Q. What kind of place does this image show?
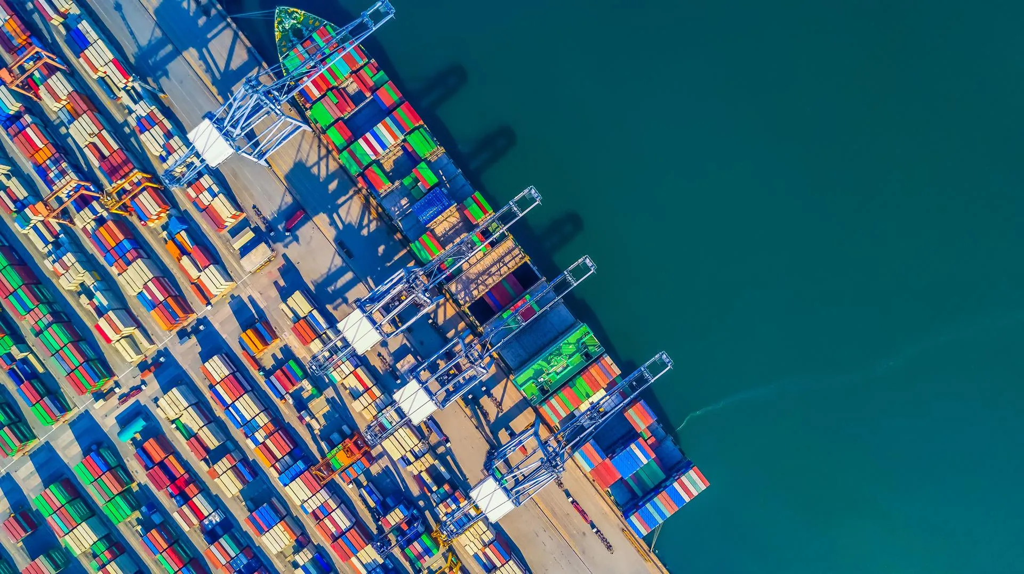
port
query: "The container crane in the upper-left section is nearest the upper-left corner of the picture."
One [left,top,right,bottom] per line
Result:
[0,43,76,101]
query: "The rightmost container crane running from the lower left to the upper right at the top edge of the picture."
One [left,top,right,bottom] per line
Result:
[156,0,394,193]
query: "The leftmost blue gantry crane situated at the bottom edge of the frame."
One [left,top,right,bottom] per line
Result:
[369,499,425,558]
